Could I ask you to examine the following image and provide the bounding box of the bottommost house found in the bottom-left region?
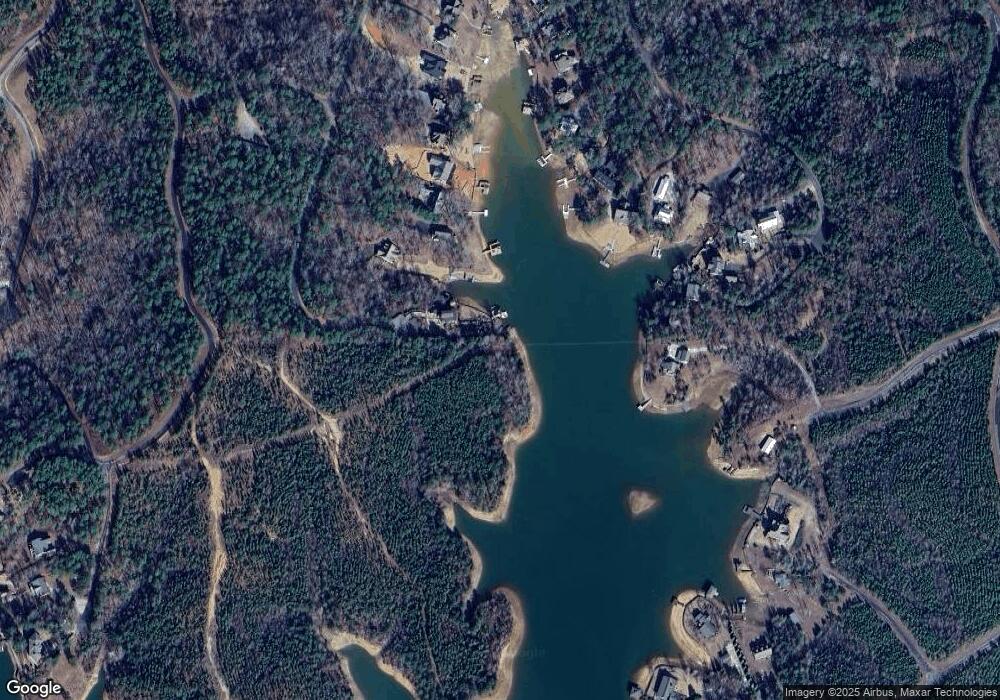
[24,638,45,667]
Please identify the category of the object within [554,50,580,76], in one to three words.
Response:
house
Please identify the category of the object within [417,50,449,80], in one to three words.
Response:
house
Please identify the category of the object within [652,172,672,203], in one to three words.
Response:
barn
